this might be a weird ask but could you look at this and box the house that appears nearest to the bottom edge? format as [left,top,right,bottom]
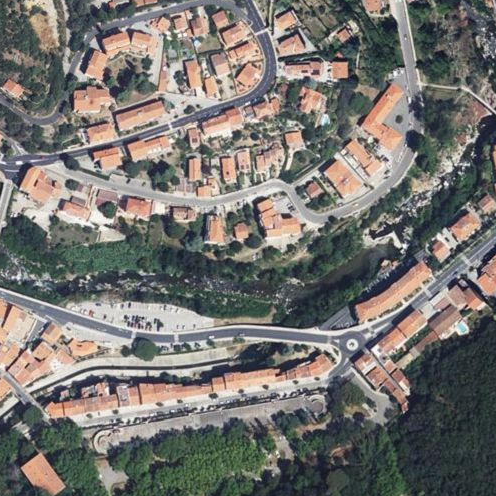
[21,454,66,496]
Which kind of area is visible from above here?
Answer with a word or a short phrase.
residential area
